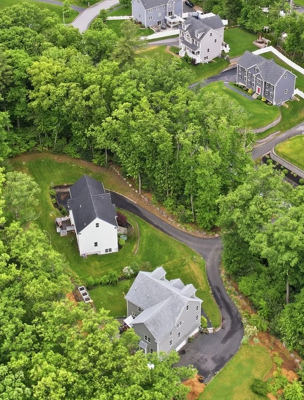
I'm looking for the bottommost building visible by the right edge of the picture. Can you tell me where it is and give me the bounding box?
[237,46,302,106]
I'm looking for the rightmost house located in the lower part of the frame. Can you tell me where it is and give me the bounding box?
[123,266,206,368]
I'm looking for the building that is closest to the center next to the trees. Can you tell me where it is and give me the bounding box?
[64,174,124,259]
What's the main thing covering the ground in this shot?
trees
